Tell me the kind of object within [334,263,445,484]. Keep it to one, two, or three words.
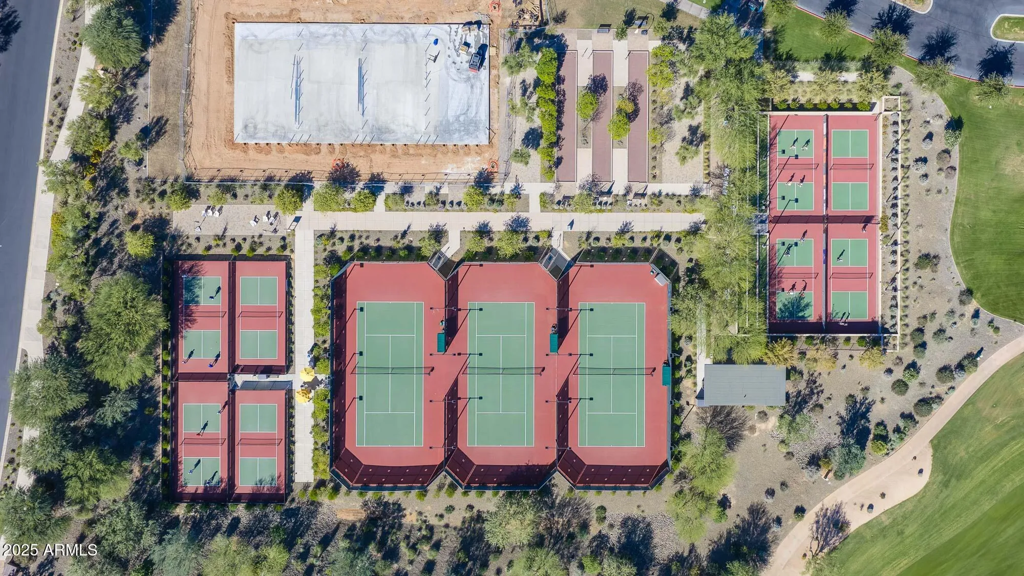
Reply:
tennis court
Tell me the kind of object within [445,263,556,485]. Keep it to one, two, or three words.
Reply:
tennis court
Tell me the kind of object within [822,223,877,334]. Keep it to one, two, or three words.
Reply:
sports court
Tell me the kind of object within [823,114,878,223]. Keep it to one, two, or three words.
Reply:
sports court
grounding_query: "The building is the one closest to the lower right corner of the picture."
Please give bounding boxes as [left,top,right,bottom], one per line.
[690,361,786,407]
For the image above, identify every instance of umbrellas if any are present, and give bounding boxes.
[300,367,317,383]
[298,387,311,402]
